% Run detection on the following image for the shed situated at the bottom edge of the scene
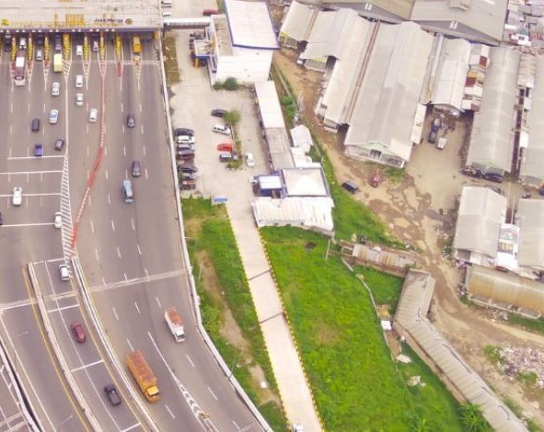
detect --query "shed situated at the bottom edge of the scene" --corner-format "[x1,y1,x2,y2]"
[395,317,528,432]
